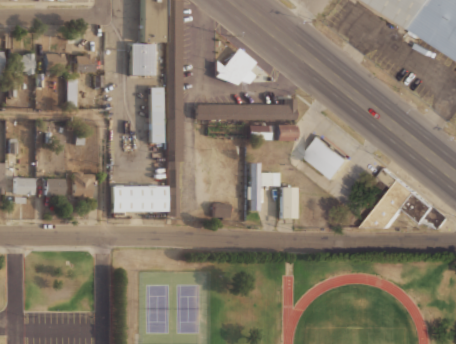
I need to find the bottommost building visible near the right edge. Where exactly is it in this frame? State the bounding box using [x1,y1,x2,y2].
[359,166,446,229]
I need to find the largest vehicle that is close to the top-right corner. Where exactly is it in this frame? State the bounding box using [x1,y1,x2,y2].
[412,43,437,56]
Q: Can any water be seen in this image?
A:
No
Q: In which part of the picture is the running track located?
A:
bottom right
